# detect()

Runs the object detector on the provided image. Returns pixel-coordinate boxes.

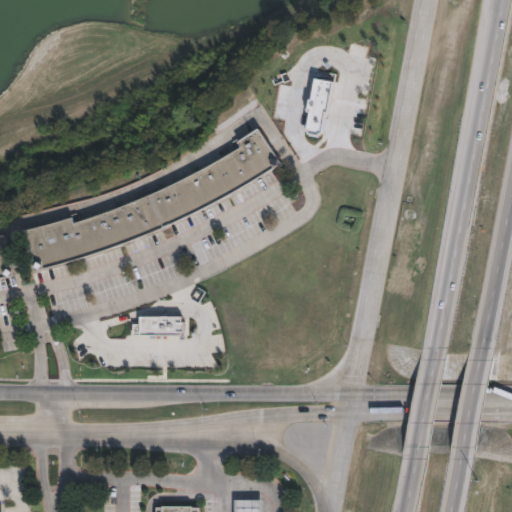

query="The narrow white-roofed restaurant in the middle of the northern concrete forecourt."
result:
[305,78,332,140]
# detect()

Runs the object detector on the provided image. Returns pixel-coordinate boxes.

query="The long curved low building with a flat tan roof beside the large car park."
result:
[26,128,282,268]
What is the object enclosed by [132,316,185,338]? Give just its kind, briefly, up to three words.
building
